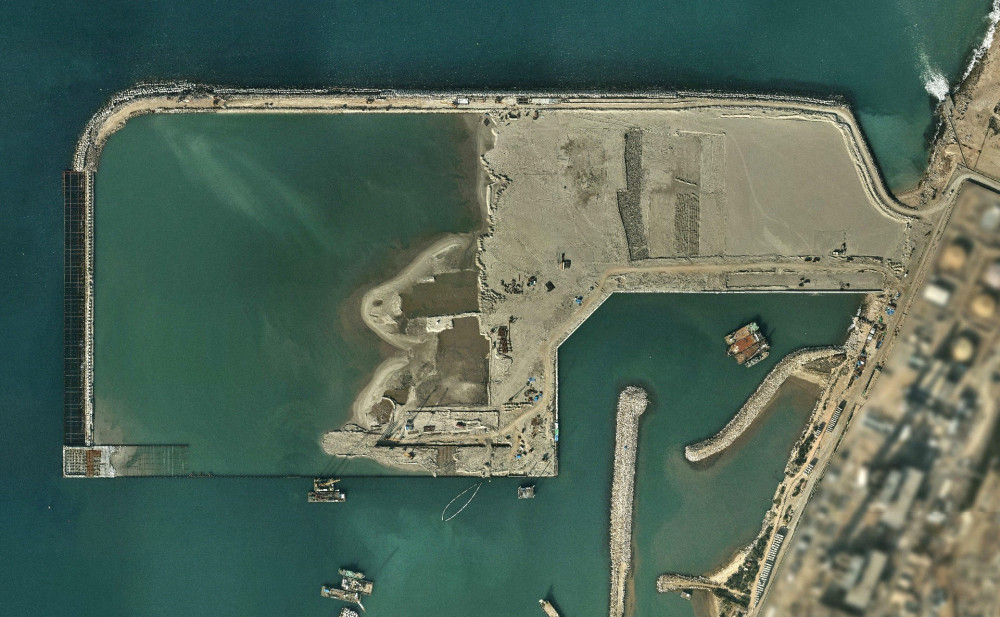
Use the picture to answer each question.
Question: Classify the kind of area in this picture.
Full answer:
This image shows a port.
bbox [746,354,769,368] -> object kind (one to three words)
ship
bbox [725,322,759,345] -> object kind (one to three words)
ship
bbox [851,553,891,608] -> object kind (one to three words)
building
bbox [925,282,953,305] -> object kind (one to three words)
building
